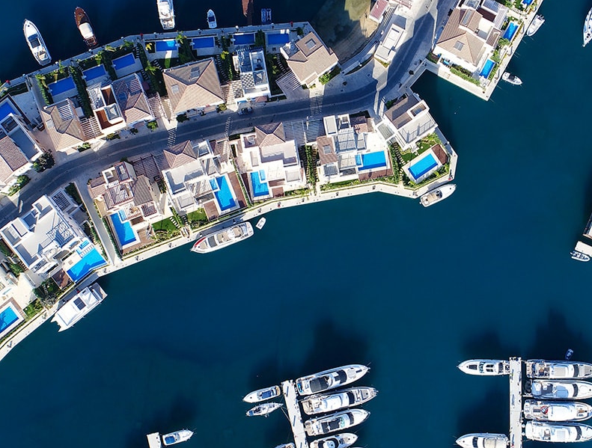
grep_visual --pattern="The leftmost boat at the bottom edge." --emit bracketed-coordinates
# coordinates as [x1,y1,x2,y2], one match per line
[162,429,193,446]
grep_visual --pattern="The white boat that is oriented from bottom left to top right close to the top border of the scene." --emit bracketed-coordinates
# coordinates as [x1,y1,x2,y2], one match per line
[527,16,545,35]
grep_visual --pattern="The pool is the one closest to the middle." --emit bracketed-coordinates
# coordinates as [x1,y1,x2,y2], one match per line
[241,169,285,199]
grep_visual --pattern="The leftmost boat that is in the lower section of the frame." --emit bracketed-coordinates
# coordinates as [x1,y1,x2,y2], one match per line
[50,281,110,333]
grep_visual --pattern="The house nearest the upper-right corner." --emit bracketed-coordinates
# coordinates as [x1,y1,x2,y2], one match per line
[436,0,509,71]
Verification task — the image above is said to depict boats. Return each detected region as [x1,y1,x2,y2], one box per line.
[295,366,371,394]
[22,17,52,68]
[50,281,110,333]
[565,349,572,359]
[527,16,545,35]
[241,385,283,402]
[207,9,217,29]
[502,71,523,85]
[155,0,176,32]
[581,5,592,50]
[522,358,592,379]
[246,403,283,417]
[75,7,100,49]
[453,358,509,375]
[277,442,295,448]
[570,249,590,262]
[522,399,592,421]
[451,432,510,448]
[420,184,460,205]
[256,217,267,228]
[310,434,360,448]
[304,408,373,434]
[522,420,592,443]
[525,379,592,400]
[162,429,193,446]
[300,389,379,415]
[190,225,258,253]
